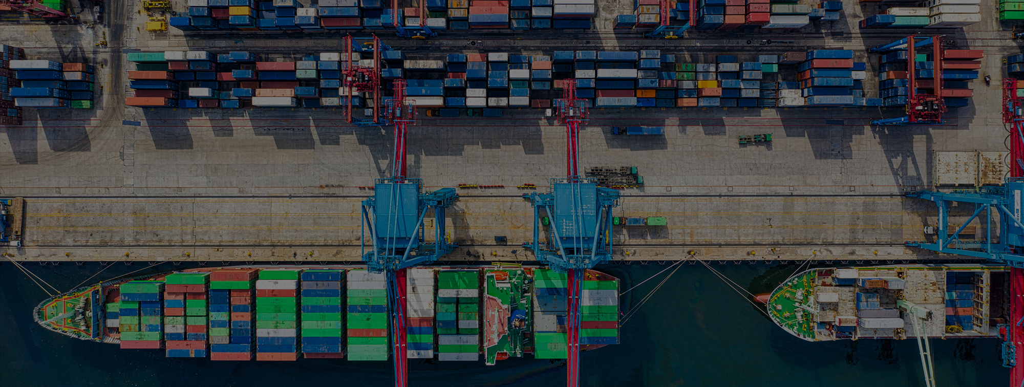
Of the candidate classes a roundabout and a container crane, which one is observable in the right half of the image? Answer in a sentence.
There is a container crane in the right half of the image.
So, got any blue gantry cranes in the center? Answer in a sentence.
Yes, the scene does show a blue gantry crane in the center.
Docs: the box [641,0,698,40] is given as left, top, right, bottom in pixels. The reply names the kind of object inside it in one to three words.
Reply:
container crane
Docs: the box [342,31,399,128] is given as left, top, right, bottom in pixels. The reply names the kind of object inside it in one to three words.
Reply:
container crane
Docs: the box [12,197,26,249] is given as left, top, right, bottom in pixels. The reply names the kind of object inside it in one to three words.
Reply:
vehicle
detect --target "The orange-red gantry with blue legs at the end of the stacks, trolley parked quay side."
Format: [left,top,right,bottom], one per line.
[867,30,944,128]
